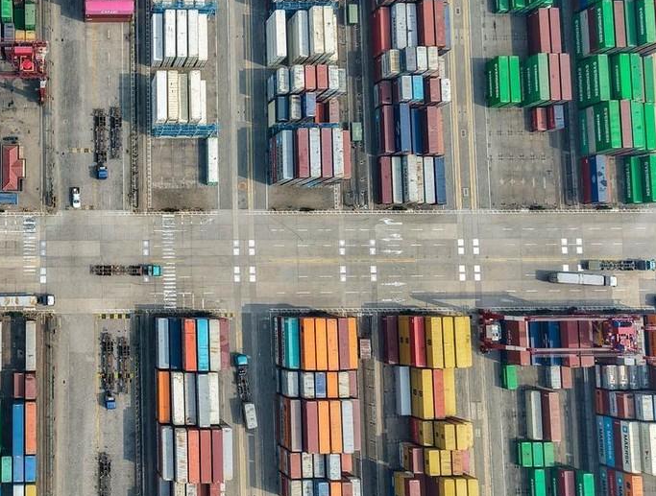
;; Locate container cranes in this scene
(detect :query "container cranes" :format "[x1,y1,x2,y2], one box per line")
[478,310,646,358]
[0,37,47,108]
[588,322,656,361]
